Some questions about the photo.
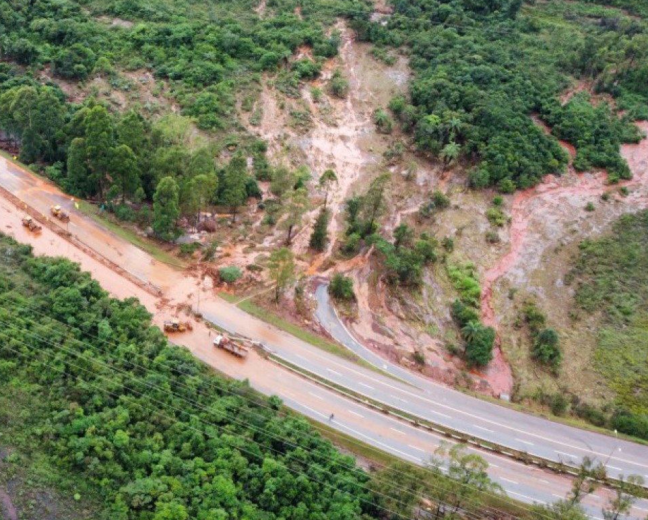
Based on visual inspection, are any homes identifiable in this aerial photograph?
No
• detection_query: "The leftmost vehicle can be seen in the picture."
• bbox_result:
[20,214,47,237]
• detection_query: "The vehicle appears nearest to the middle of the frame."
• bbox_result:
[212,333,248,357]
